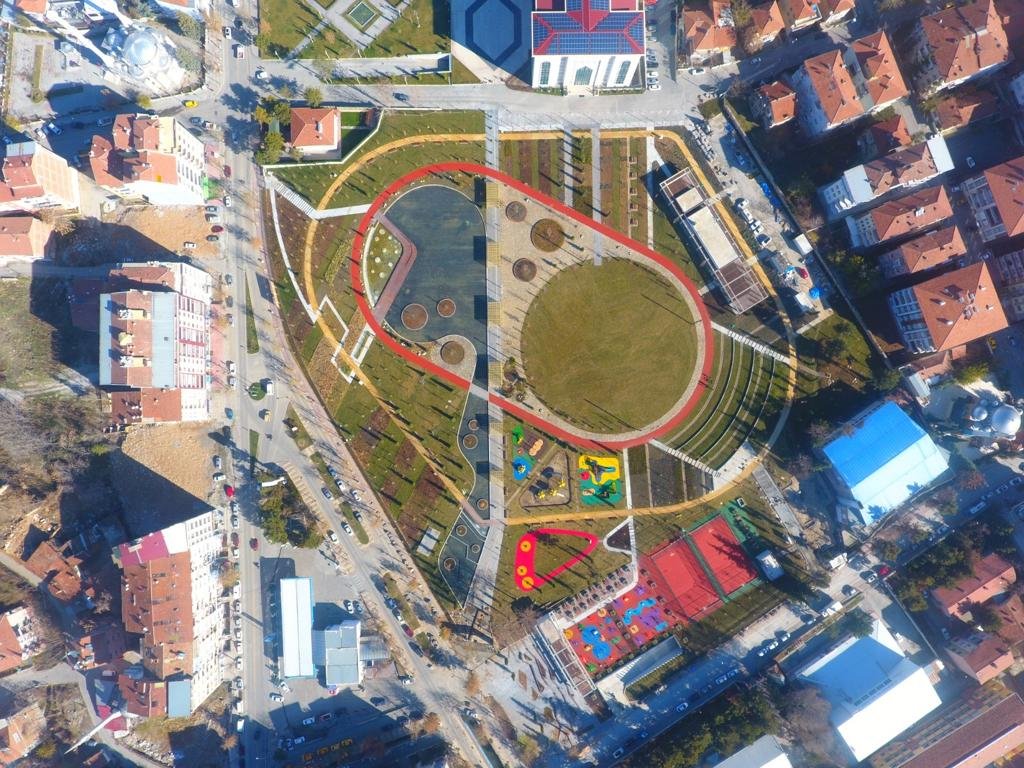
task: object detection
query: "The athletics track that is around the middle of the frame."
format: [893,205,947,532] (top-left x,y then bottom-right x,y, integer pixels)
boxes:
[351,161,714,450]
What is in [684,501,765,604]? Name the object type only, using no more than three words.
basketball court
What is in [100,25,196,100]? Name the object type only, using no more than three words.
building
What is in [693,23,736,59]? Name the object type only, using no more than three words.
house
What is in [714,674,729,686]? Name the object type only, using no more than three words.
vehicle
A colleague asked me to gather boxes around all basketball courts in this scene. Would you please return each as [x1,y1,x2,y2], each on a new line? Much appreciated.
[652,537,722,618]
[684,501,765,604]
